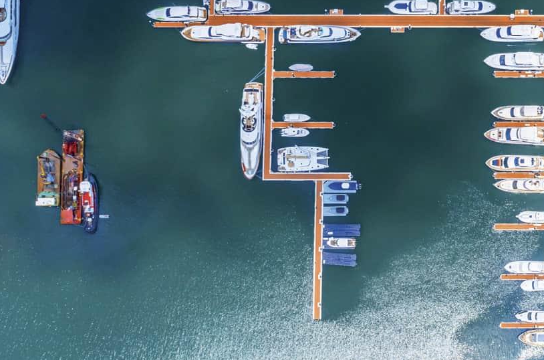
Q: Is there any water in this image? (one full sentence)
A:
Yes, there is water in the image.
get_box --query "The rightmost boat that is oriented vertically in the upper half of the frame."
[239,80,263,179]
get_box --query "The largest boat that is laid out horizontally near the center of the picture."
[277,147,329,171]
